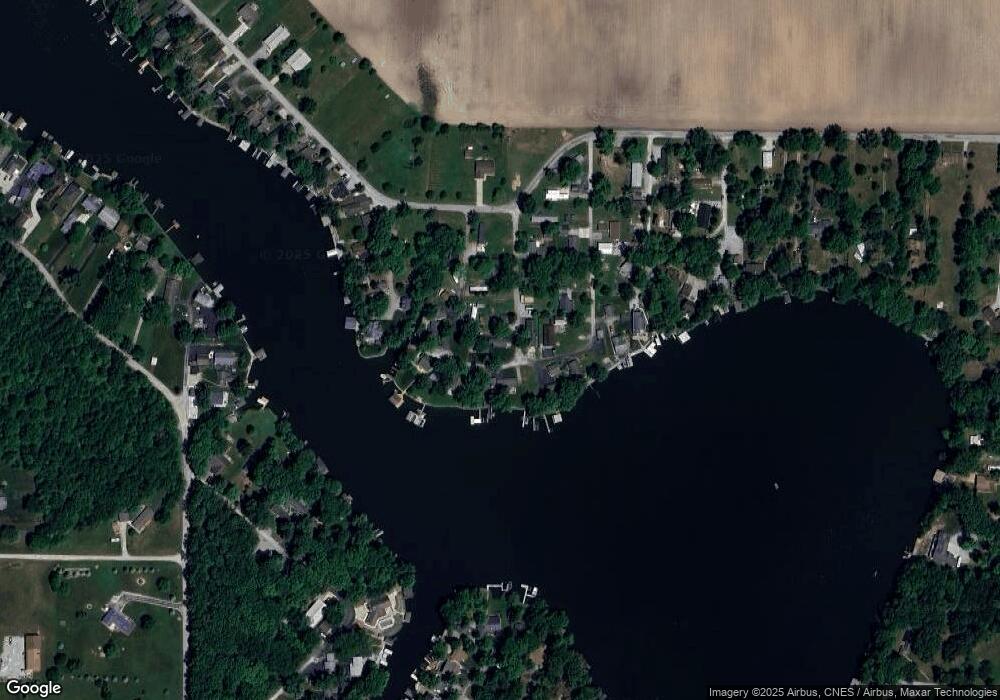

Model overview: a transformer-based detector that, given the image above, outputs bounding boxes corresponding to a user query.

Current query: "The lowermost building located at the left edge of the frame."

[24,635,39,672]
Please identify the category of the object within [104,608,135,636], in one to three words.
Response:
house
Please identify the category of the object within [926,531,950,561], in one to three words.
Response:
house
